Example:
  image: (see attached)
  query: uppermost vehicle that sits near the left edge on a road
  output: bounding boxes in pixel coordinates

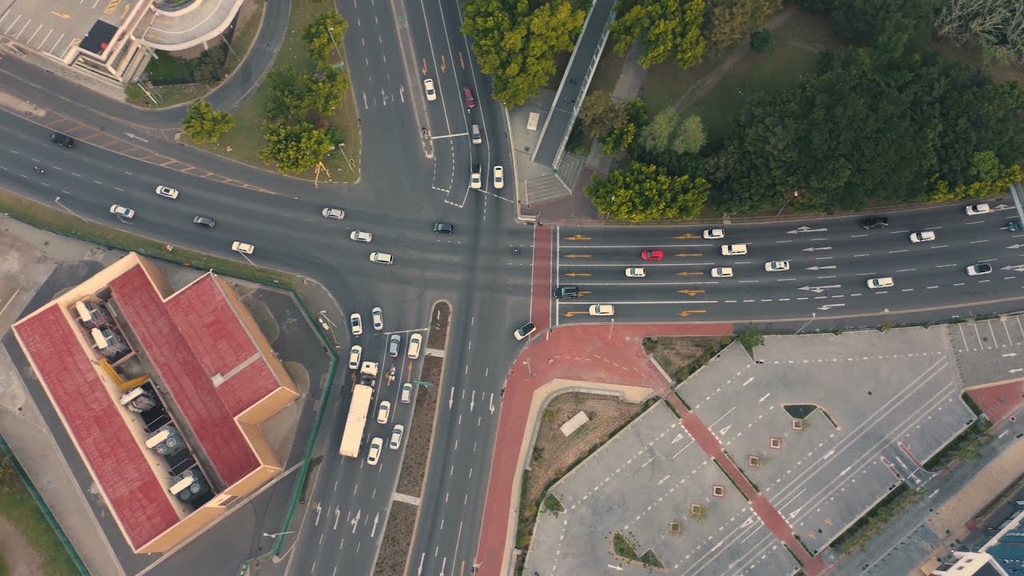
[47,133,76,150]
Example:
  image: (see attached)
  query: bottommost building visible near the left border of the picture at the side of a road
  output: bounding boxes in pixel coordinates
[12,253,298,554]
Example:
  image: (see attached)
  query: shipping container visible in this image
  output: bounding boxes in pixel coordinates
[559,409,590,436]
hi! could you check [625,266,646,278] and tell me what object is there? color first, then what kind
white vehicle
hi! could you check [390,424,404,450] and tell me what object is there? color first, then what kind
white car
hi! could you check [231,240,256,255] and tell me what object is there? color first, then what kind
white car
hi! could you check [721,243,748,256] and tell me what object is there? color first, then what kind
white vehicle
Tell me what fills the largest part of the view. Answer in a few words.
paved ground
